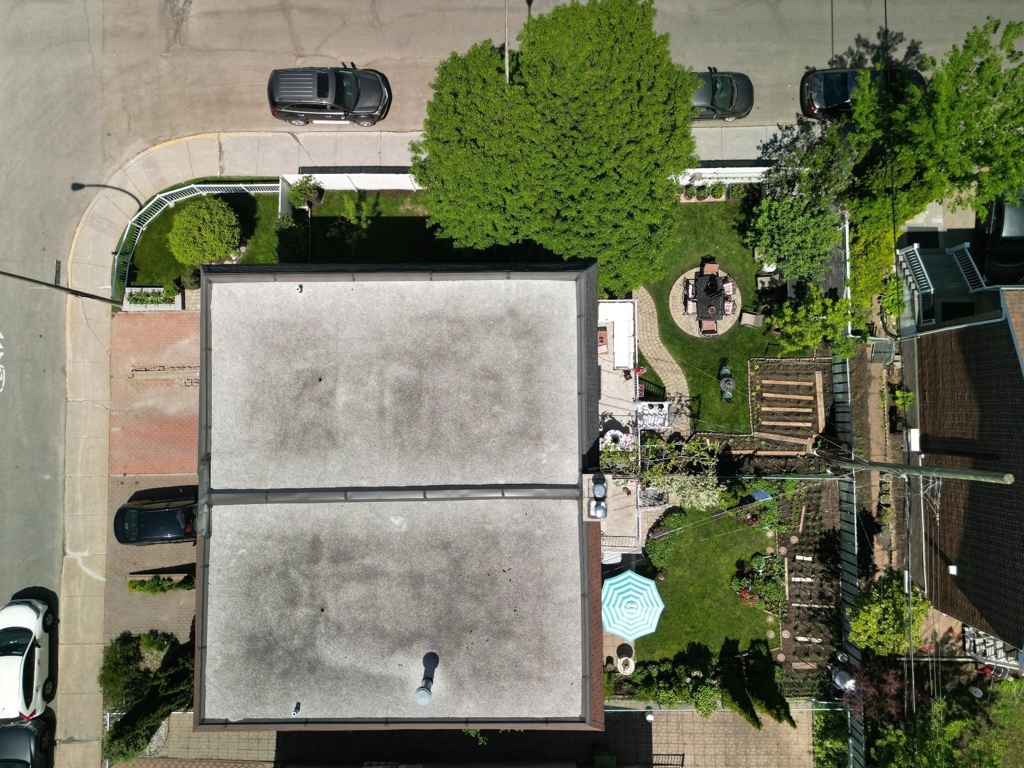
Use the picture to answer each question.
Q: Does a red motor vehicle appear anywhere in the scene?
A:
No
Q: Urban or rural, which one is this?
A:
urban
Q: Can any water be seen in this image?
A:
No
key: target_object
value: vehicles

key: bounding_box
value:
[0,715,54,768]
[668,61,756,121]
[0,593,54,717]
[263,59,390,125]
[113,488,197,548]
[796,56,925,119]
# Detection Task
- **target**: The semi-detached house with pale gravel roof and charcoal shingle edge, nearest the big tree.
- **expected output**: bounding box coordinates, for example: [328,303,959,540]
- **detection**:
[197,261,600,534]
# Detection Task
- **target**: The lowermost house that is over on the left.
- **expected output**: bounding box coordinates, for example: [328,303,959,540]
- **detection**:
[193,441,607,731]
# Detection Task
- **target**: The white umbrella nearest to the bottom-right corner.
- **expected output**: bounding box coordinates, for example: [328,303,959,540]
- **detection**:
[603,567,665,639]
